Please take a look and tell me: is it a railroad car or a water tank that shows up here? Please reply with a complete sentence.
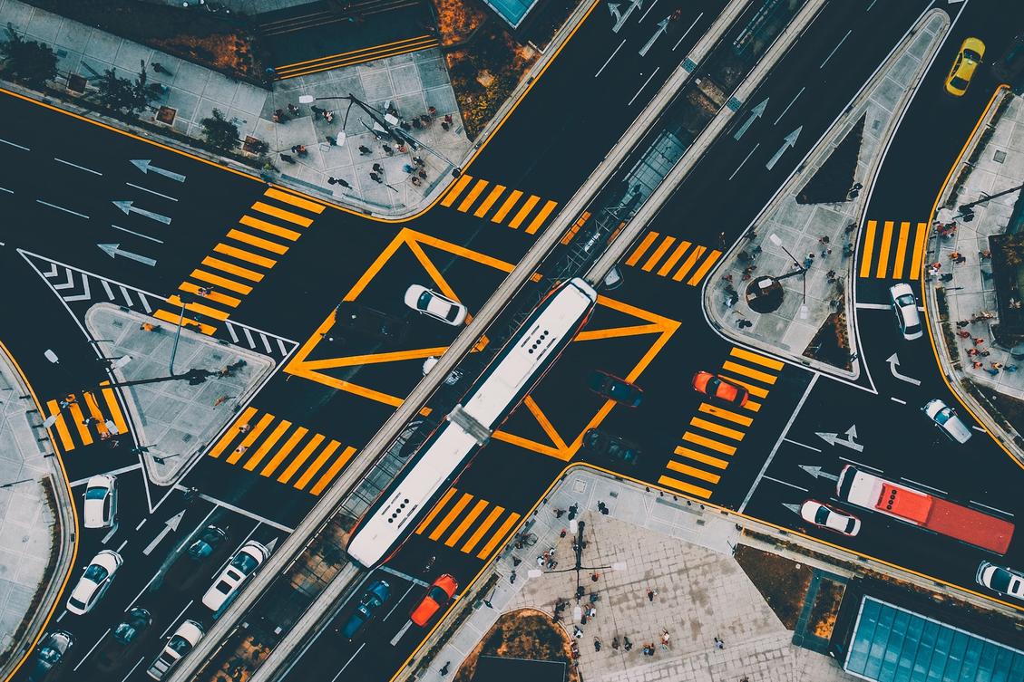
The image shows a railroad car.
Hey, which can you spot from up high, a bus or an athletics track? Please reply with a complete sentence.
Looking from above, you can make out a bus.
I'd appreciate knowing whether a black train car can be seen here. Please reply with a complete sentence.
No, no black train car is visible in the view.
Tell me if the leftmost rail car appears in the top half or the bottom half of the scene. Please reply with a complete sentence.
You can find the leftmost rail car in the bottom half.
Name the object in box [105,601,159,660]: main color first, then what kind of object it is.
black car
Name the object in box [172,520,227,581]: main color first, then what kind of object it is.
black car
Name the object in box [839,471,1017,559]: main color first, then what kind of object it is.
red bus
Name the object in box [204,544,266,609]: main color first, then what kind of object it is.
white van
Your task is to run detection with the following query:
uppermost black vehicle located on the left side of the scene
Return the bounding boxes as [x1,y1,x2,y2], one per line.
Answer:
[338,300,406,342]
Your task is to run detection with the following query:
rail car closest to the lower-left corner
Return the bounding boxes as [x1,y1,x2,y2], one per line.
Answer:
[346,415,494,572]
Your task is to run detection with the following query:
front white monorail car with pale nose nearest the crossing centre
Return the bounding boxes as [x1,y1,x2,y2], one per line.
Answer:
[458,280,600,437]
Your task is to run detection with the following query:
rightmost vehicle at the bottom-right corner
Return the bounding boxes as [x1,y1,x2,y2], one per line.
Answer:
[974,560,1024,600]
